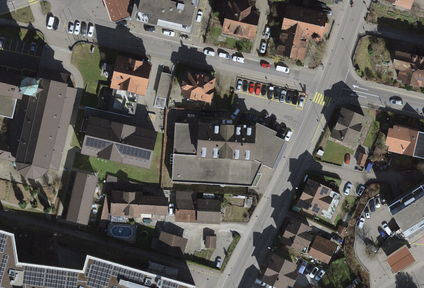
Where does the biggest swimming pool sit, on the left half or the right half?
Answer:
left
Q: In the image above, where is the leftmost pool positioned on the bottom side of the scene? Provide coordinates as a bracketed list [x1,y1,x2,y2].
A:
[108,224,137,244]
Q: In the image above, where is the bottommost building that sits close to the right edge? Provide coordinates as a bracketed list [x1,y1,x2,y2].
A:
[388,246,417,275]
